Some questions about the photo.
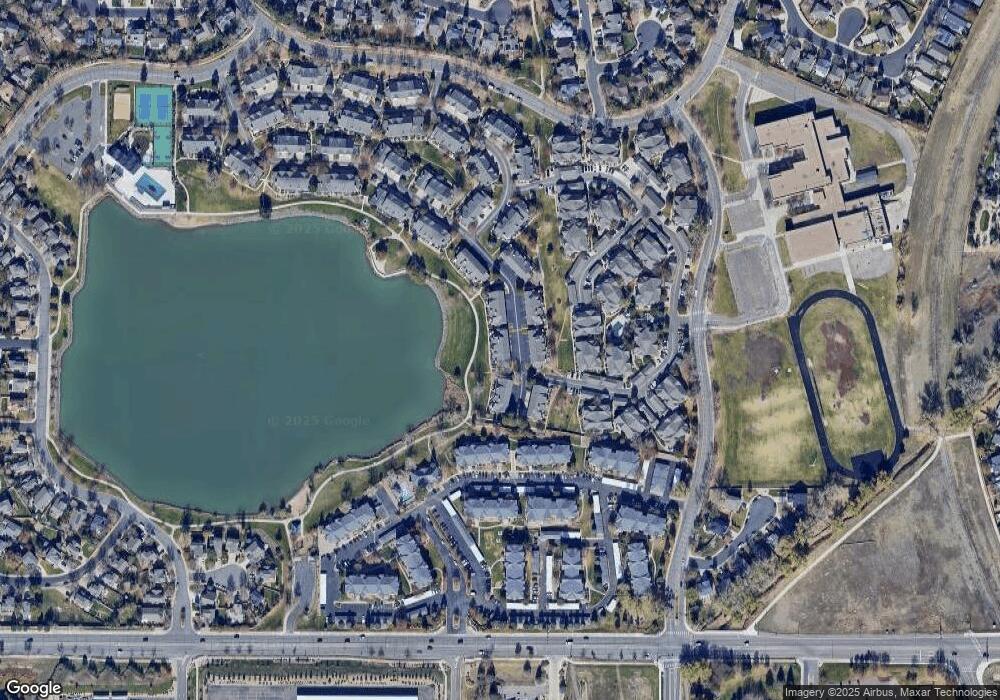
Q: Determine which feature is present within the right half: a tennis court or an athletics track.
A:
athletics track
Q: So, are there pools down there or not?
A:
Yes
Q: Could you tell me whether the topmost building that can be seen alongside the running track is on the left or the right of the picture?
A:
right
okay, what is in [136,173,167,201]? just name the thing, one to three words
swimming pool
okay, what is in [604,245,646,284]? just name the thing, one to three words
house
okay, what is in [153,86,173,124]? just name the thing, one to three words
tennis court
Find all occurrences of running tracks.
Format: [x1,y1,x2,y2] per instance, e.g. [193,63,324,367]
[789,290,903,480]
